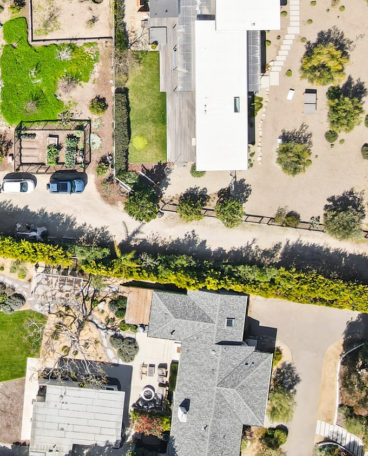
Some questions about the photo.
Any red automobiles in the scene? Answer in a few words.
No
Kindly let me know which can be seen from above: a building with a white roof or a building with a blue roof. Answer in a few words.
building with a white roof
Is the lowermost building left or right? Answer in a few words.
left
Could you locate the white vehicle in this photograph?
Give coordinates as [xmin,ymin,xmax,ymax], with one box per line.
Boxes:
[1,177,35,195]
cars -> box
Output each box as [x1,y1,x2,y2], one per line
[48,178,83,196]
[1,177,35,195]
